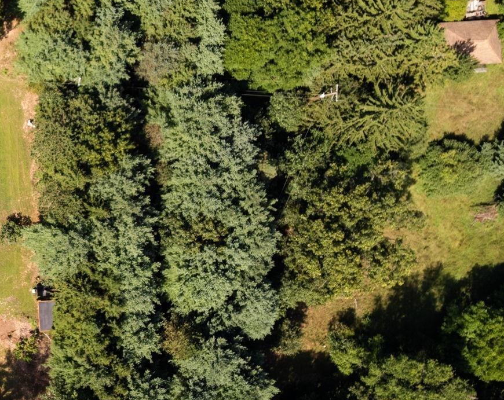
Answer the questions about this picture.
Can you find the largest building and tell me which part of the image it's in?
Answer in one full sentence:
The largest building is located in the top right region of the scene.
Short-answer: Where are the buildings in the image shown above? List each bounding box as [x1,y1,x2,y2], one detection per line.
[38,300,56,332]
[431,20,503,65]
